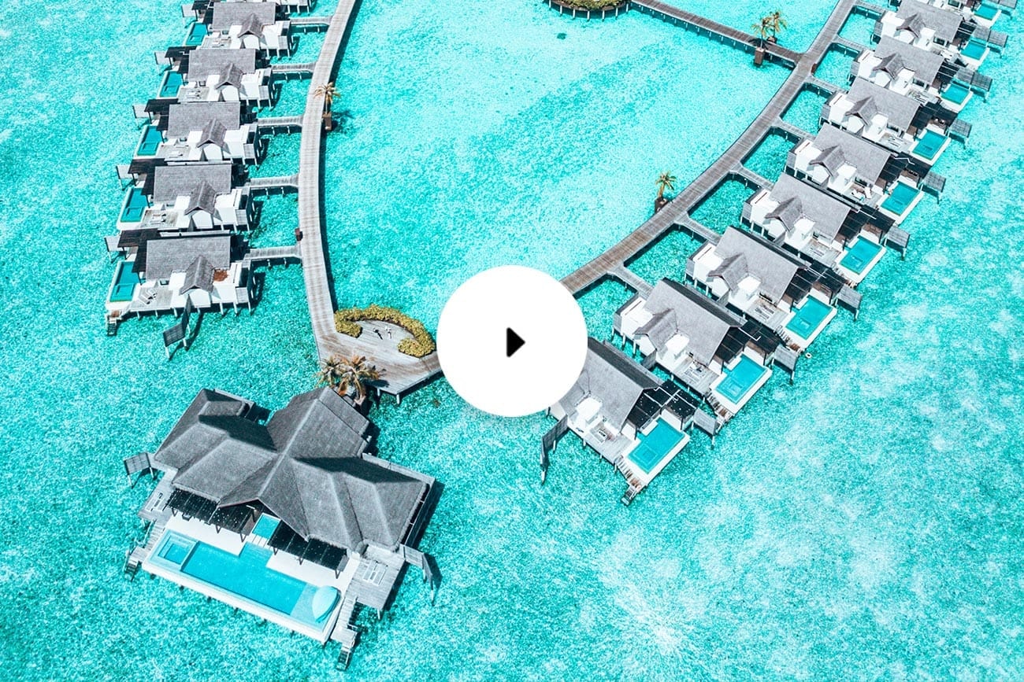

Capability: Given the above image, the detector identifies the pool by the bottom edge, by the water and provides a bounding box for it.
[142,529,352,648]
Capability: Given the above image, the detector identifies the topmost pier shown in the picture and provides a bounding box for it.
[624,0,815,73]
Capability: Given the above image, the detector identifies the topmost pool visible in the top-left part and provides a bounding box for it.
[181,19,213,48]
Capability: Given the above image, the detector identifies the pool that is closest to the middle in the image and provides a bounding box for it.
[615,415,697,490]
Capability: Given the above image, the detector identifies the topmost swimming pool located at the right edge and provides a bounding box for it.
[971,0,1004,25]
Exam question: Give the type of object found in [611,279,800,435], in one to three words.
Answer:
house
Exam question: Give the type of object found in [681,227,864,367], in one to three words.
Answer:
house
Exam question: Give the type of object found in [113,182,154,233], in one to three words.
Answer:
swimming pool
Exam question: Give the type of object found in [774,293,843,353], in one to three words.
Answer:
swimming pool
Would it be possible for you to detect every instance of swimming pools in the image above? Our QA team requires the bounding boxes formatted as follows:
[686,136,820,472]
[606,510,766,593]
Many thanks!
[872,179,928,227]
[934,81,976,112]
[615,415,697,490]
[774,293,843,353]
[906,128,955,165]
[971,0,1004,25]
[829,233,892,289]
[130,121,168,164]
[703,352,779,419]
[955,37,991,69]
[113,182,154,233]
[153,67,188,99]
[103,254,147,315]
[142,529,352,648]
[181,19,213,48]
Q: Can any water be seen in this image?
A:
Yes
